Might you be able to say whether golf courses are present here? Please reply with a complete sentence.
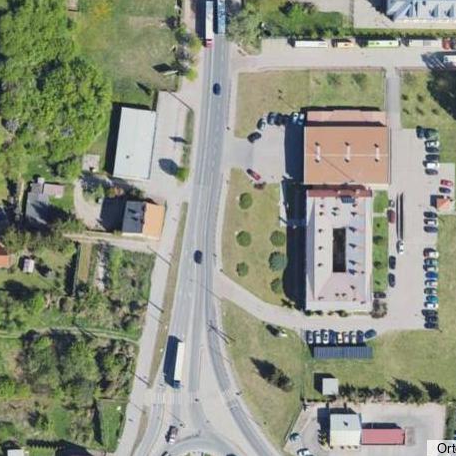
No, no golf course is visible in the scene.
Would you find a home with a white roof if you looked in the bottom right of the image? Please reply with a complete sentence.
Yes, a home with a white roof appears in the bottom right of the image.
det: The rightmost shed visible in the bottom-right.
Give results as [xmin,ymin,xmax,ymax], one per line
[361,429,404,444]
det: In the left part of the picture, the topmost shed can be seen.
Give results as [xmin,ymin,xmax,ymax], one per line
[113,106,156,182]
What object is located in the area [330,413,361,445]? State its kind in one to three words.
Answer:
house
